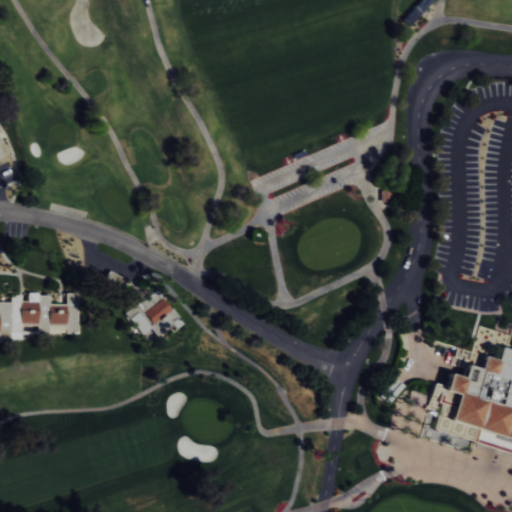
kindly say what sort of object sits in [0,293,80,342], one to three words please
house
